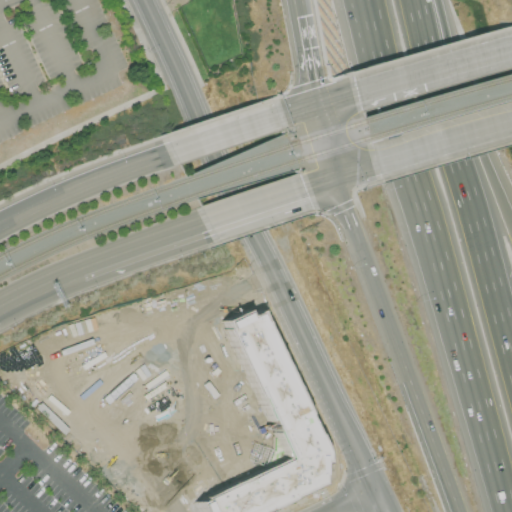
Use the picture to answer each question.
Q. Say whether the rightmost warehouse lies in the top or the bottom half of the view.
bottom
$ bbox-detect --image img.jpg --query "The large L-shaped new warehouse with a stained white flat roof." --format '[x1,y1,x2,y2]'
[196,310,336,512]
